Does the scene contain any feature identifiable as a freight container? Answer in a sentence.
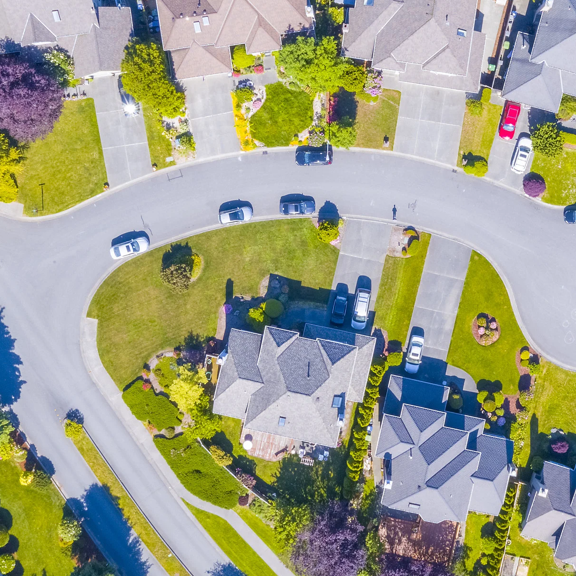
No, the scene contains no freight container.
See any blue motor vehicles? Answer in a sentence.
Yes, a blue motor vehicle appears in the view.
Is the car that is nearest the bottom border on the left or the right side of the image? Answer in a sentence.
You can find the car that is nearest the bottom border on the right side of the picture.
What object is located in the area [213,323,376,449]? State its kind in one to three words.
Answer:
house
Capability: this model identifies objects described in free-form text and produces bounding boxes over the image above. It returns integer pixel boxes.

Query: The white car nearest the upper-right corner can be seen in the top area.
[510,134,534,175]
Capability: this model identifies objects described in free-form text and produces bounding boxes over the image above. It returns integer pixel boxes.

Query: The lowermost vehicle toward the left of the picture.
[107,236,152,261]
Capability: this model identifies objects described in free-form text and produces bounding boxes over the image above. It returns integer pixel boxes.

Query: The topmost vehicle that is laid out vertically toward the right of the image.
[499,100,521,140]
